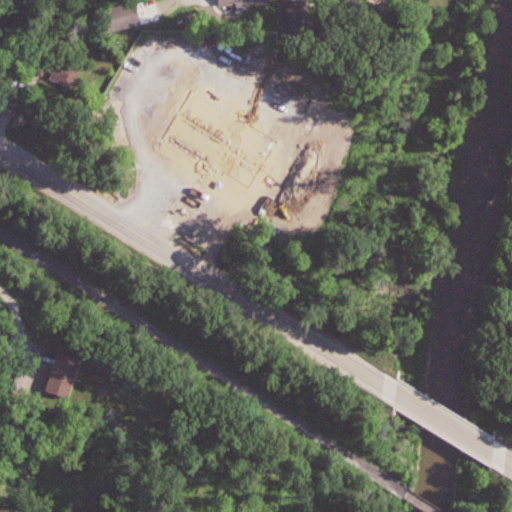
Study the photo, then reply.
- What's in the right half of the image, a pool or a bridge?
bridge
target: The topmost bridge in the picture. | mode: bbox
[380,368,505,478]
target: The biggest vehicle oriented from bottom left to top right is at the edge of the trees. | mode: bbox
[259,197,274,214]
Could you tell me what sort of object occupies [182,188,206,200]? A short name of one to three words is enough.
vehicle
